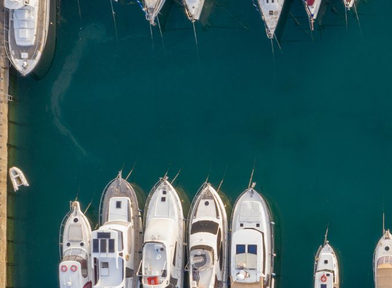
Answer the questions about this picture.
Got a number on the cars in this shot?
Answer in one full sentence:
I count no cars.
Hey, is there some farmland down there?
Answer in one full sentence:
No, the scene doesn't show any farmland.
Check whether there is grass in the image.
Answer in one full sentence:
No, the scene doesn't show any grass.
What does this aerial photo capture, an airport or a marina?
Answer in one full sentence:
The area seen from above is a marina.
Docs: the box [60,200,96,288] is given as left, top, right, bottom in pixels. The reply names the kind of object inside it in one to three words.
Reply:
boat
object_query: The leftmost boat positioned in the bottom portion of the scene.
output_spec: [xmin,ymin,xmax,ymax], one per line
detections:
[9,168,30,193]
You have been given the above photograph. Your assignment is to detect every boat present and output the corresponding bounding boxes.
[183,0,209,21]
[340,0,358,9]
[229,186,278,288]
[303,0,325,31]
[9,168,30,193]
[142,0,170,23]
[186,181,234,288]
[255,0,288,38]
[0,0,61,76]
[92,170,146,288]
[138,177,191,288]
[60,200,96,288]
[315,242,340,288]
[374,231,392,288]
